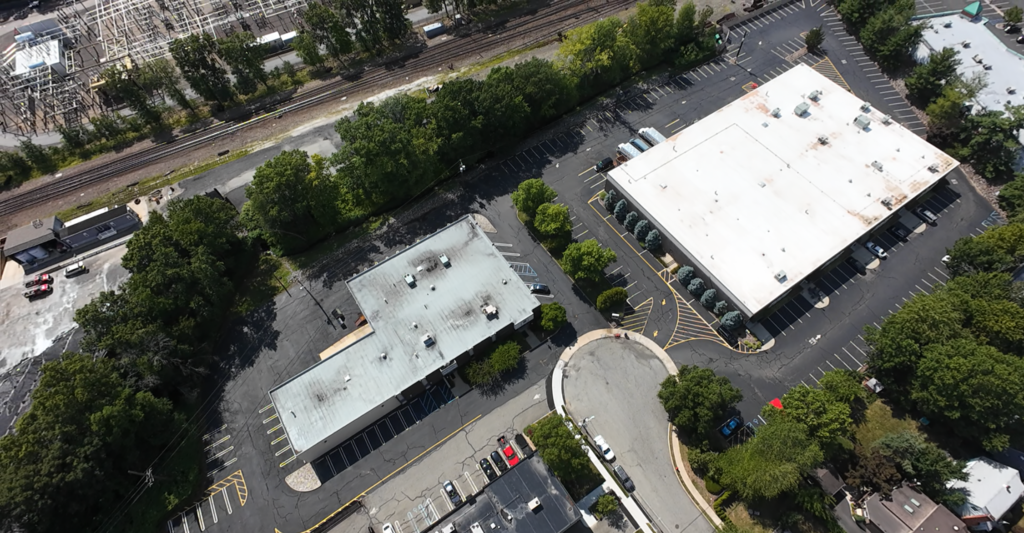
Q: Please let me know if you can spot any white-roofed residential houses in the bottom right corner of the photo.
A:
Yes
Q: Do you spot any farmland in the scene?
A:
No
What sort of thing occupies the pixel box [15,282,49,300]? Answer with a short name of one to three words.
vehicle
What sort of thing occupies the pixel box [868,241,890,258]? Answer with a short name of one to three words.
car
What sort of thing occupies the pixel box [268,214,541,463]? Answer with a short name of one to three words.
building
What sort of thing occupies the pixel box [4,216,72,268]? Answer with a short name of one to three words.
shed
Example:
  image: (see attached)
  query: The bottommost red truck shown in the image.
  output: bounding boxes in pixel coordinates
[497,437,521,468]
